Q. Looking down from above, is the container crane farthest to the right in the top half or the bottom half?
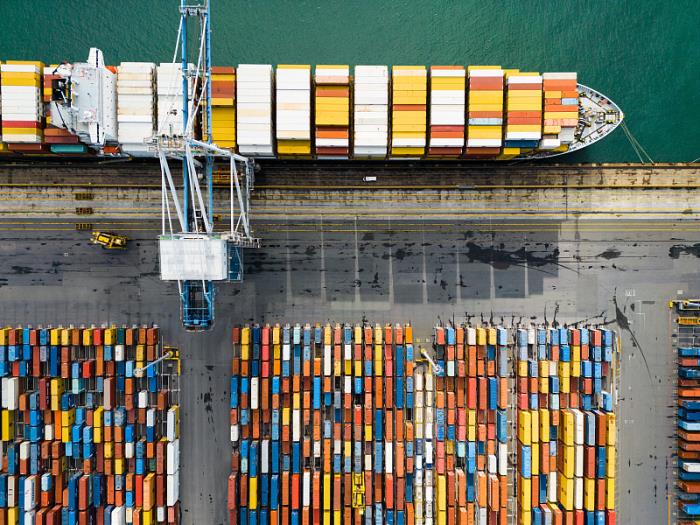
top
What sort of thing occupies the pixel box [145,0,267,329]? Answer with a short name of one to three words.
container crane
